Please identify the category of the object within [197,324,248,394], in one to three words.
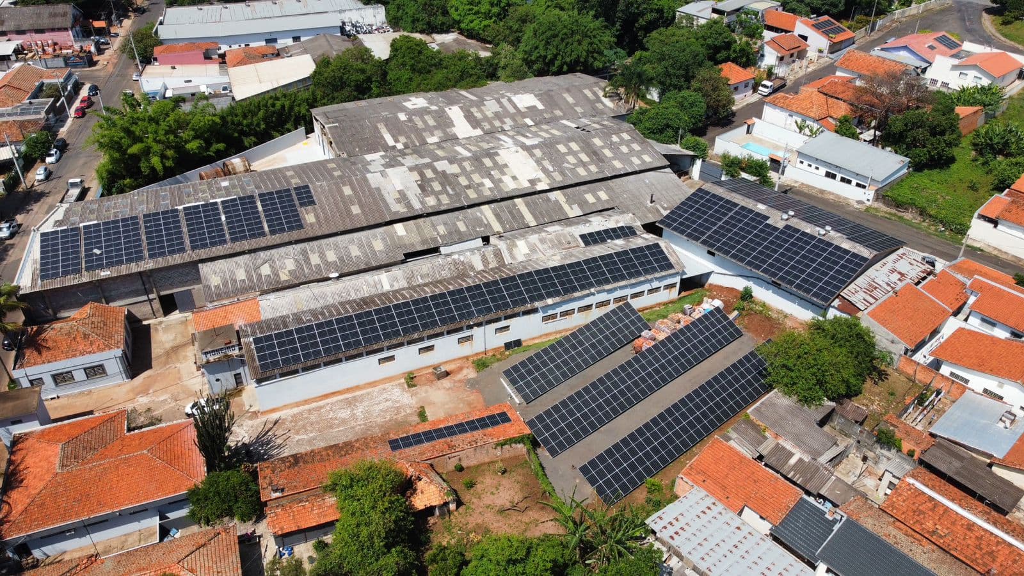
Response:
building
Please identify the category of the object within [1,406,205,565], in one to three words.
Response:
house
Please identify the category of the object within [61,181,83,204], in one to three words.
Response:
truck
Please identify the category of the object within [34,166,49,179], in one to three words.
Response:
vehicle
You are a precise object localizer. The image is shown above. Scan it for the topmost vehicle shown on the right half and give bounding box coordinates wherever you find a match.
[765,81,785,94]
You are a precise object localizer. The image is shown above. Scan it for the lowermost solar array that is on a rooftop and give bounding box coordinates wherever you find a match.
[389,412,511,451]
